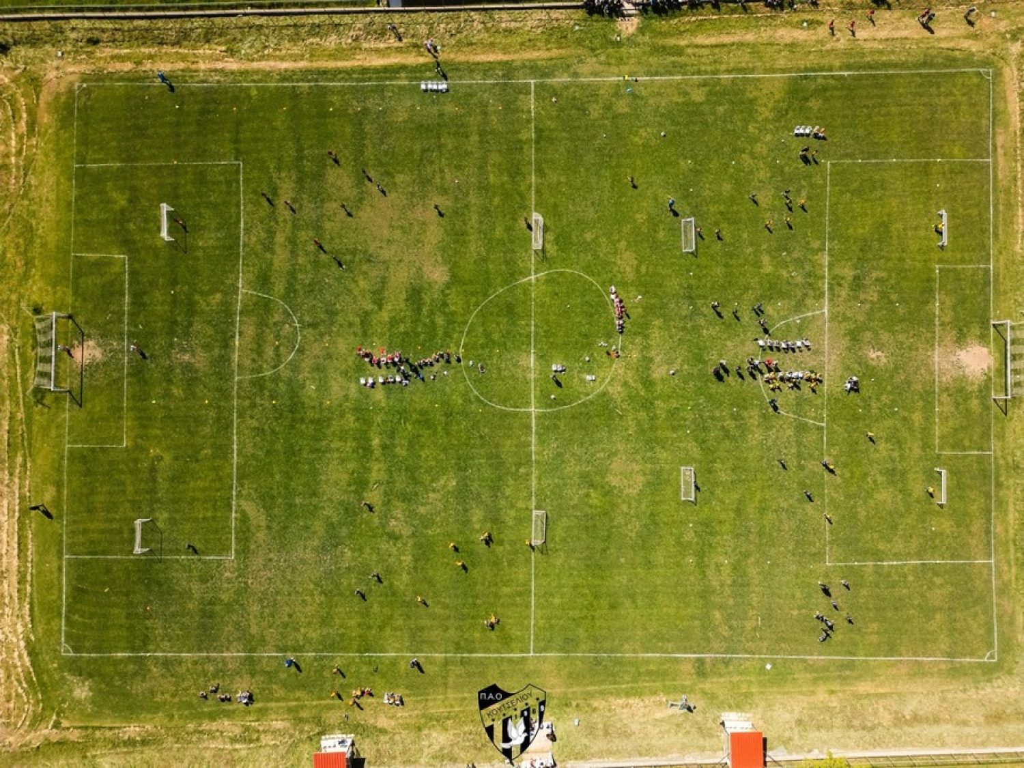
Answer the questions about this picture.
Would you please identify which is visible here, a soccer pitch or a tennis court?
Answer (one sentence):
It is a soccer pitch that can be seen here.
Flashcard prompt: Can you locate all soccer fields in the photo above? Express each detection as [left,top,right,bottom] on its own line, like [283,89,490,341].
[57,65,1001,666]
